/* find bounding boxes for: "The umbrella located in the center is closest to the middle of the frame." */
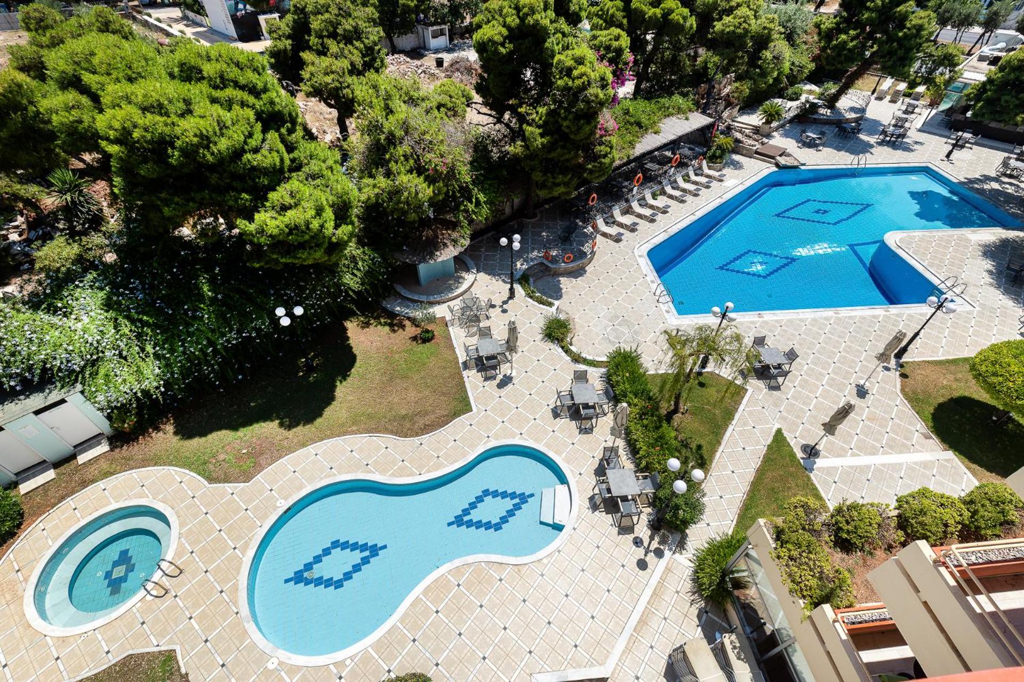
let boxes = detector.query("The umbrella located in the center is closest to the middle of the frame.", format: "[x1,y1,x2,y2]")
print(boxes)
[505,322,521,381]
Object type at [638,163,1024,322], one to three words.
swimming pool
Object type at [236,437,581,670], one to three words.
swimming pool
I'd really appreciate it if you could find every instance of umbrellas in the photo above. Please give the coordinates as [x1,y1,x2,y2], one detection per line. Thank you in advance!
[856,335,910,391]
[799,402,852,464]
[505,322,521,381]
[941,113,980,161]
[600,412,624,469]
